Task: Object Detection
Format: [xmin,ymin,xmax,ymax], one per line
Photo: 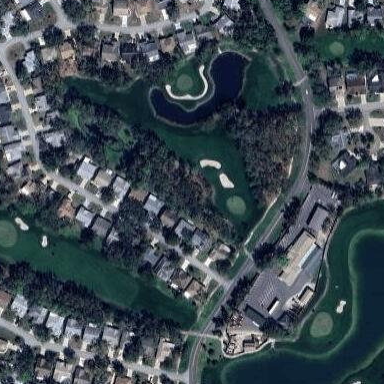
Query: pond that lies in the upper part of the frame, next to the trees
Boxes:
[150,53,248,127]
